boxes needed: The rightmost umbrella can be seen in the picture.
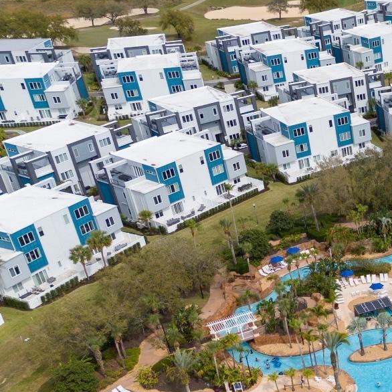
[368,283,388,300]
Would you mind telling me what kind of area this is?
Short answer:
residential area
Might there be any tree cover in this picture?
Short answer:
Yes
